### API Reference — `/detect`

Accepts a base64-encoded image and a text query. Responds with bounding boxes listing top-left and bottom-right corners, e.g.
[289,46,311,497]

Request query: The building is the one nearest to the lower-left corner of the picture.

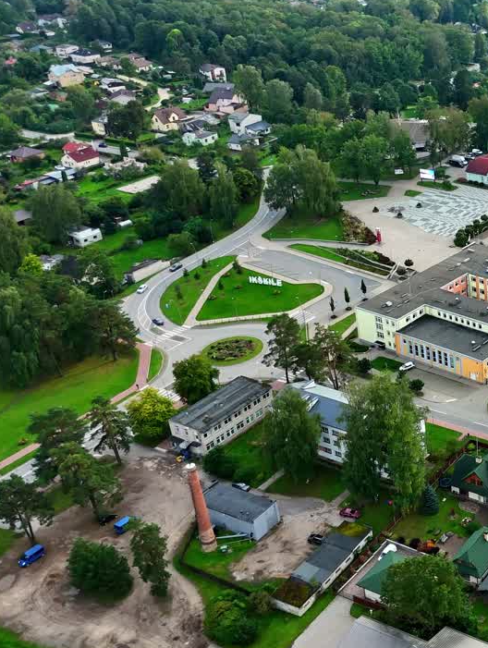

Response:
[194,475,284,538]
